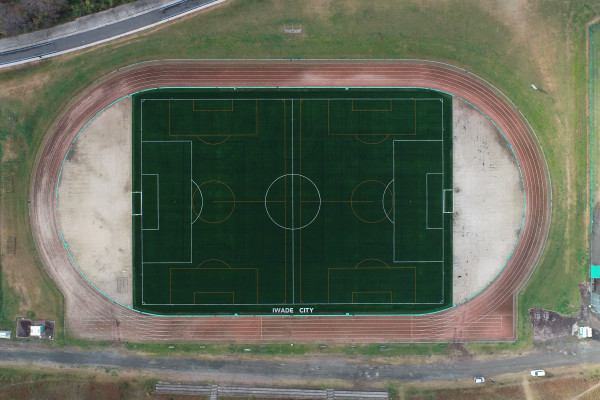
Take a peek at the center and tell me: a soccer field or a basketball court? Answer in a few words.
soccer field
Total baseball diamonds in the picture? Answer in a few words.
0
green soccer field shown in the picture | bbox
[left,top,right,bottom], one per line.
[132,88,452,314]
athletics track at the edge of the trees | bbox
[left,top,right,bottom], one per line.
[29,60,553,343]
